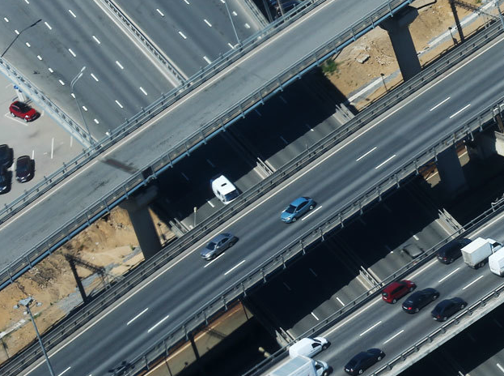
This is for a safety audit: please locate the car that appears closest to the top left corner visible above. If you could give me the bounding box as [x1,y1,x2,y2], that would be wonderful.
[7,98,38,122]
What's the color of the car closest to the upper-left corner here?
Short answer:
red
